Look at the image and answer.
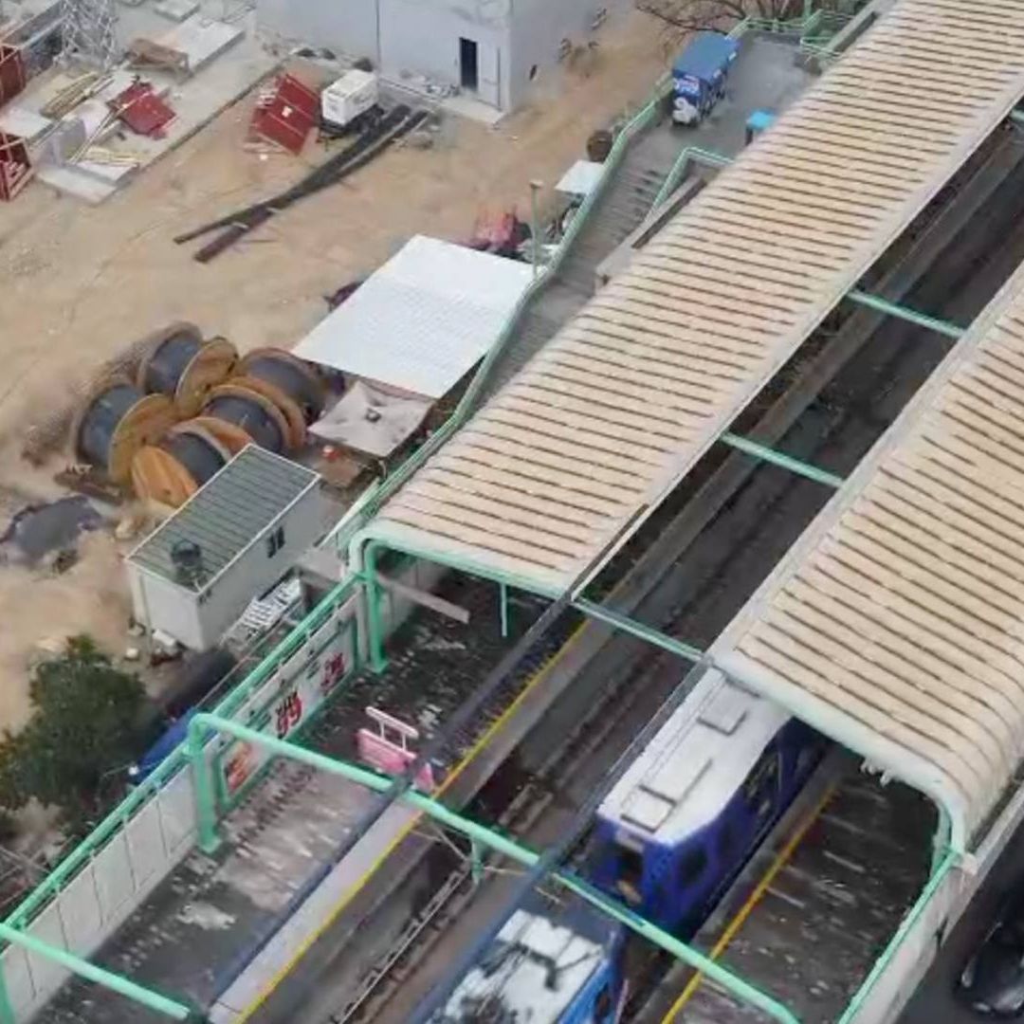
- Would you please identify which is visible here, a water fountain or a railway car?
railway car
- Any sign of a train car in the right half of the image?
Yes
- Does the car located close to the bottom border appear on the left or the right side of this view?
right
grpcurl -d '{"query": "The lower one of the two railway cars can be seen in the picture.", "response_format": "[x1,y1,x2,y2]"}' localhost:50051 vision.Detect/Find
[419,885,625,1024]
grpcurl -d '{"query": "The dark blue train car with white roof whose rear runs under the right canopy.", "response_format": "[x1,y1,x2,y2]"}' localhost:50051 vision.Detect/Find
[596,664,832,937]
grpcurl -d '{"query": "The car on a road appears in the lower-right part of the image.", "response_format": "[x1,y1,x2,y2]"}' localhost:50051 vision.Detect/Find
[965,865,1024,1006]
